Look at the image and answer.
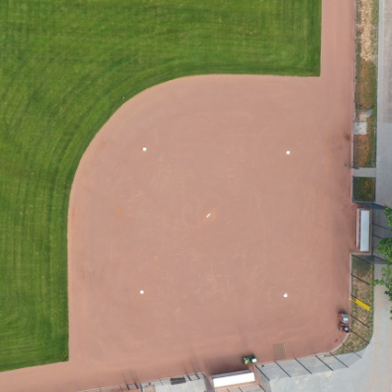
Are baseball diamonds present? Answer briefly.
Yes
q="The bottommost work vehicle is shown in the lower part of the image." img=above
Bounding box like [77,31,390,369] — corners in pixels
[244,356,260,369]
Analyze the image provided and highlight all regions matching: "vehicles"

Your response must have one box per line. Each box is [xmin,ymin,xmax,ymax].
[340,315,354,335]
[244,356,260,369]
